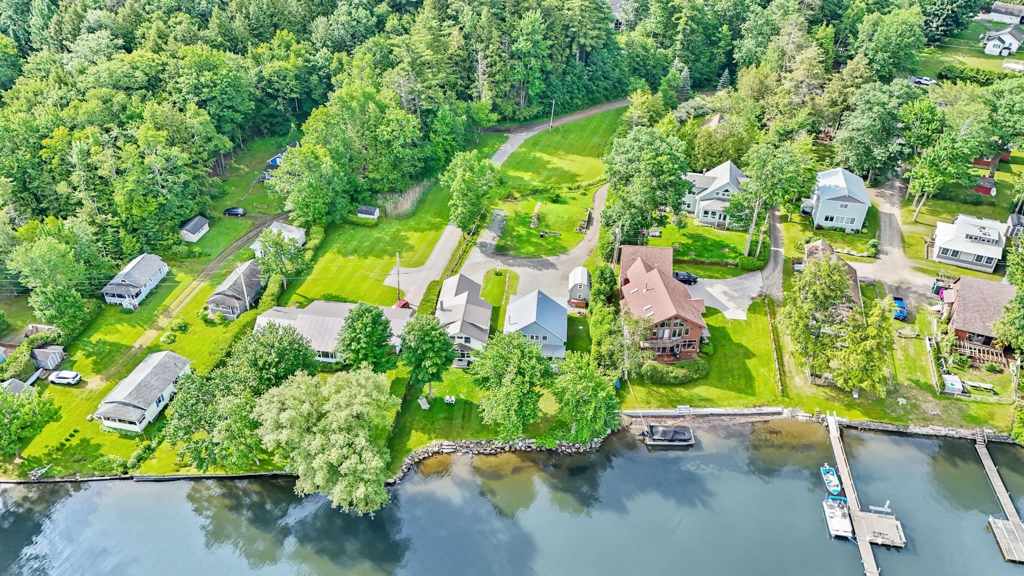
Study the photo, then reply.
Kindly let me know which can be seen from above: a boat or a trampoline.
boat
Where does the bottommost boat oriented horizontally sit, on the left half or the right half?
right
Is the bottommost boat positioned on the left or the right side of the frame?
right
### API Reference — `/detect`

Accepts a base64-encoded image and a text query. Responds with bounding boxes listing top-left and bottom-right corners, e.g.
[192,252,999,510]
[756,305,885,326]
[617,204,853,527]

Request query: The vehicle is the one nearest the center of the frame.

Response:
[396,298,410,314]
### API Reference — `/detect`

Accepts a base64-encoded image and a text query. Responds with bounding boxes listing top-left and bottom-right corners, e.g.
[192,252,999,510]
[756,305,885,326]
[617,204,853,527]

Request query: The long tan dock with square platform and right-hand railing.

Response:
[827,411,908,576]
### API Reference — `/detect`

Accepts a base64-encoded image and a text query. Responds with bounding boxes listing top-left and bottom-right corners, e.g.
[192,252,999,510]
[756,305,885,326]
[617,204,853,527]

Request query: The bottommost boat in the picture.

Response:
[823,492,855,538]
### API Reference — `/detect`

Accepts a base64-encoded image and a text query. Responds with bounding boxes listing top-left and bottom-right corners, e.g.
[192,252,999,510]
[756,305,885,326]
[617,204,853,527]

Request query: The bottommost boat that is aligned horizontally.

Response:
[640,427,698,449]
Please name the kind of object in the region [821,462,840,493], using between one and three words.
boat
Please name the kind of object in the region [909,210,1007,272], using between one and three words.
house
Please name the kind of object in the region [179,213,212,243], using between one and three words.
shed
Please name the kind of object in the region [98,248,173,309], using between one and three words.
house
